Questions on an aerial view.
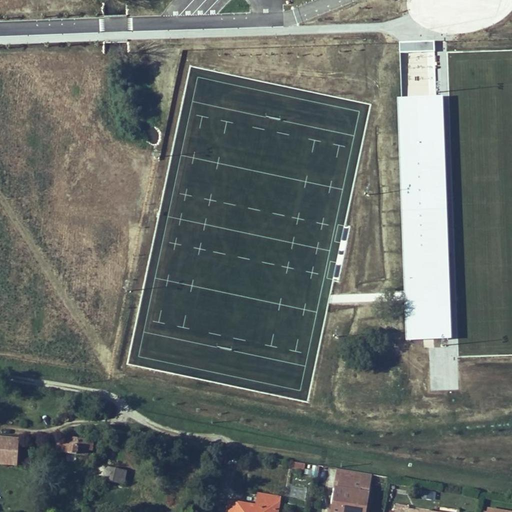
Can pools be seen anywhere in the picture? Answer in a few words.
No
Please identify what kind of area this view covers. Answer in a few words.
sports ground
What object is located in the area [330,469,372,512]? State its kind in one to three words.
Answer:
house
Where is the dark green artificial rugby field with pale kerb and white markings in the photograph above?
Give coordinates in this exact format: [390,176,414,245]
[127,66,372,402]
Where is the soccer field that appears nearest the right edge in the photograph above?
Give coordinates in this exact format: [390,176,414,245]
[448,48,512,358]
